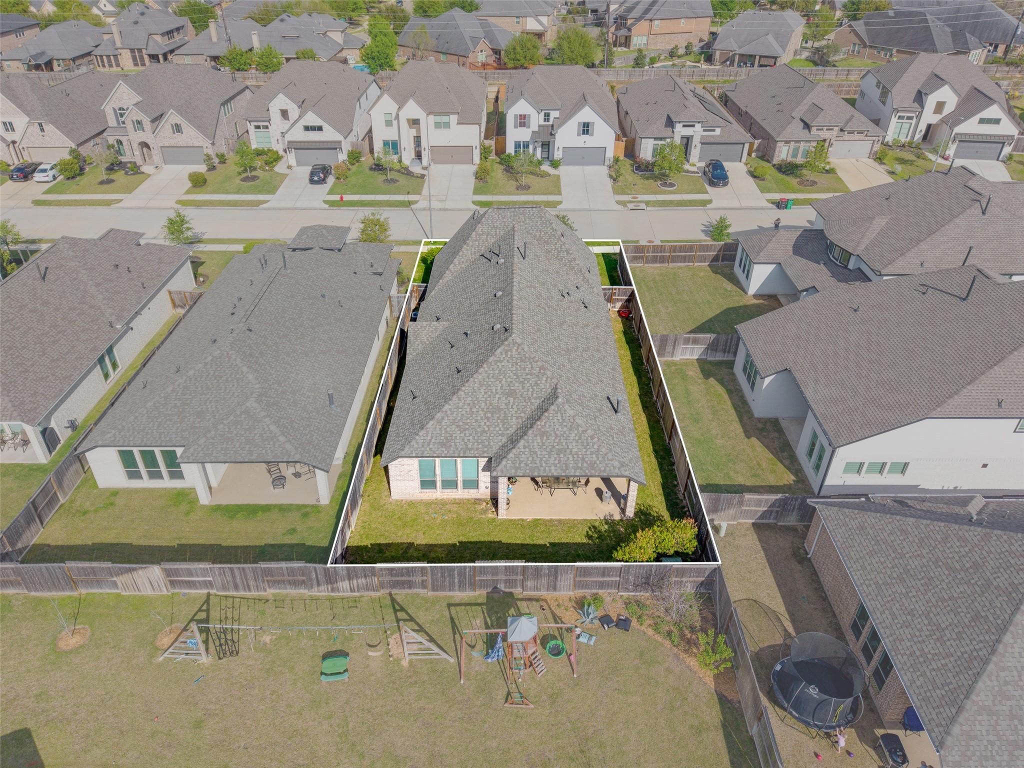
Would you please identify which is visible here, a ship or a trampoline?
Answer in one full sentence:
I can see a trampoline in this picture.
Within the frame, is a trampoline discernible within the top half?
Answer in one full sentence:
No, no trampoline can be made out within the top half.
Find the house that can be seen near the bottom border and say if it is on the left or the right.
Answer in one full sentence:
The house that can be seen near the bottom border appears in the right half of the scene.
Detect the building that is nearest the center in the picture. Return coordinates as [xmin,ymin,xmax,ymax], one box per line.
[382,204,648,519]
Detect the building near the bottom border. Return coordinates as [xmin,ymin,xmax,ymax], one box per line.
[814,481,1024,768]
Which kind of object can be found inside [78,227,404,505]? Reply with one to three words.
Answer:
house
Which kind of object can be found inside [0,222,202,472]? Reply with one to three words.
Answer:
house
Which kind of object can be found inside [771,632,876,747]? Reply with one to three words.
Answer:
trampoline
